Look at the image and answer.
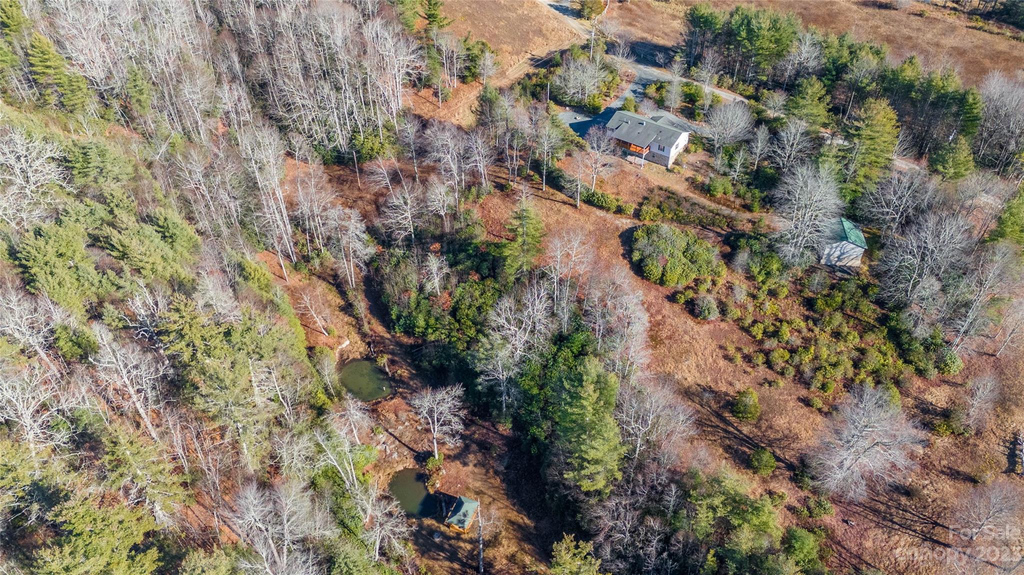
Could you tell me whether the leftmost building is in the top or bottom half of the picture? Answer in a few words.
bottom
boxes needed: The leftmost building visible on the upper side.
[606,109,691,167]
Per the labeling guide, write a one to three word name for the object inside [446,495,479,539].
building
